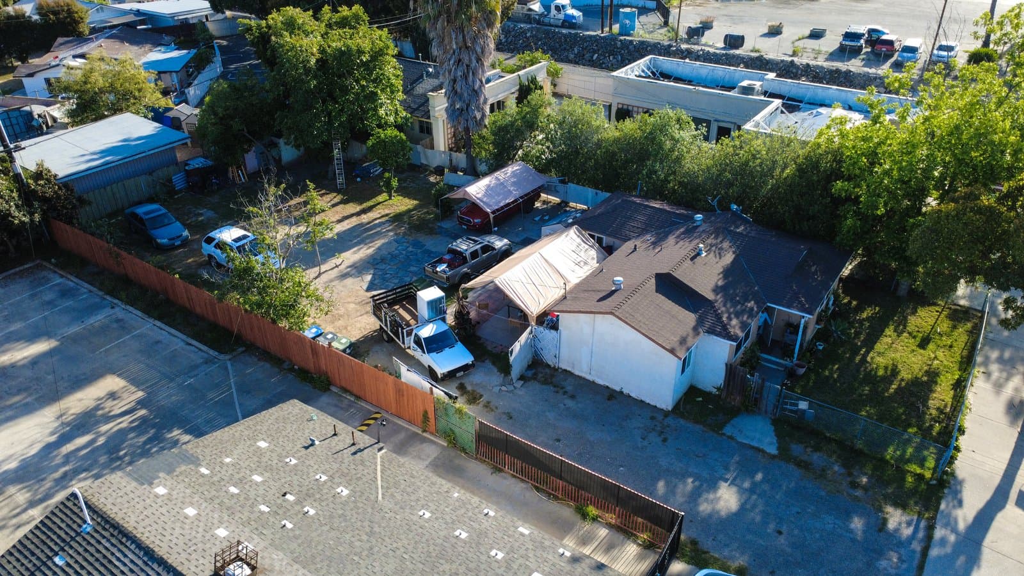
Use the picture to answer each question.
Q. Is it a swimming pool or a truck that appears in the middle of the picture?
truck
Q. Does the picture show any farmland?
No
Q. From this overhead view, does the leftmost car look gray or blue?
blue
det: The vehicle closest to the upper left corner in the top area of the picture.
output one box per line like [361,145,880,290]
[117,203,191,250]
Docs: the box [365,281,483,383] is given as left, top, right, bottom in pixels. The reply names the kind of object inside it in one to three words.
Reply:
truck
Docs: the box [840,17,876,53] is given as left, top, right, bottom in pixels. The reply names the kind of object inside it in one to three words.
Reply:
car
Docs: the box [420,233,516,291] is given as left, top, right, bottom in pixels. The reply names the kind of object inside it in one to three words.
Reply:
truck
